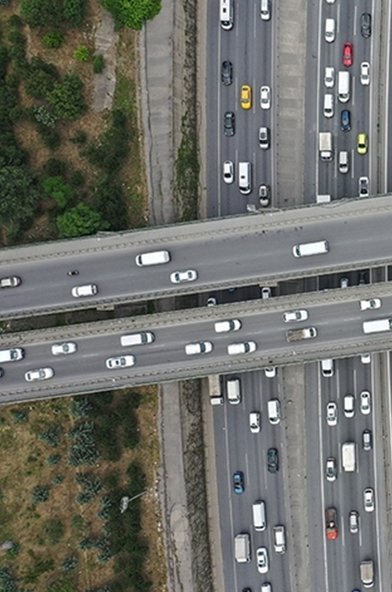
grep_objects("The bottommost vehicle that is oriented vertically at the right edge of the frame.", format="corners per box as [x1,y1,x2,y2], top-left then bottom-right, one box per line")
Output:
[359,557,374,589]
